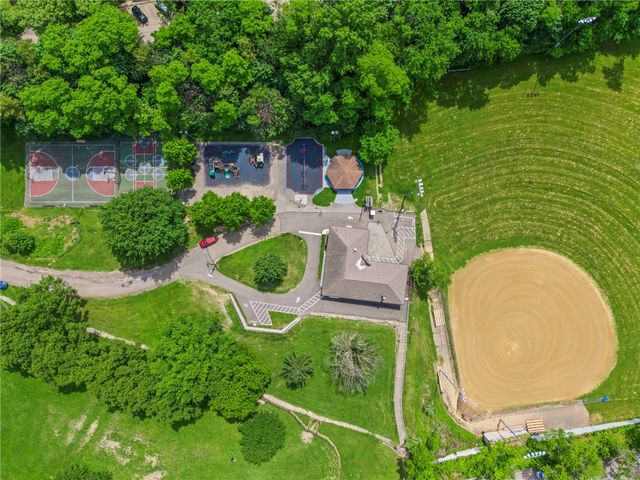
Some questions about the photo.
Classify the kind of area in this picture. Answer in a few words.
sports ground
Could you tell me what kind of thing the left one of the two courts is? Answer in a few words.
basketball court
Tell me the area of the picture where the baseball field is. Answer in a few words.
right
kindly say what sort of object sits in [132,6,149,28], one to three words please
car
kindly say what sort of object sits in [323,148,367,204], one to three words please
gazebo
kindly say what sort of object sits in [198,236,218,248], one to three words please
vehicle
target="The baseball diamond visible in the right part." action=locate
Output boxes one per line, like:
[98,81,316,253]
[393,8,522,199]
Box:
[386,46,640,424]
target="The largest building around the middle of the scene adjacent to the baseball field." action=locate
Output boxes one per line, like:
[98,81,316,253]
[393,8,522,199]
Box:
[321,225,408,305]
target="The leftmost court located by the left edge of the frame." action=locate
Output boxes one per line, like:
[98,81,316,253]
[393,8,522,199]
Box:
[26,142,118,208]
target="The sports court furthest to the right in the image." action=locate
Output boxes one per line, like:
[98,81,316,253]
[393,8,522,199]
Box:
[120,138,171,195]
